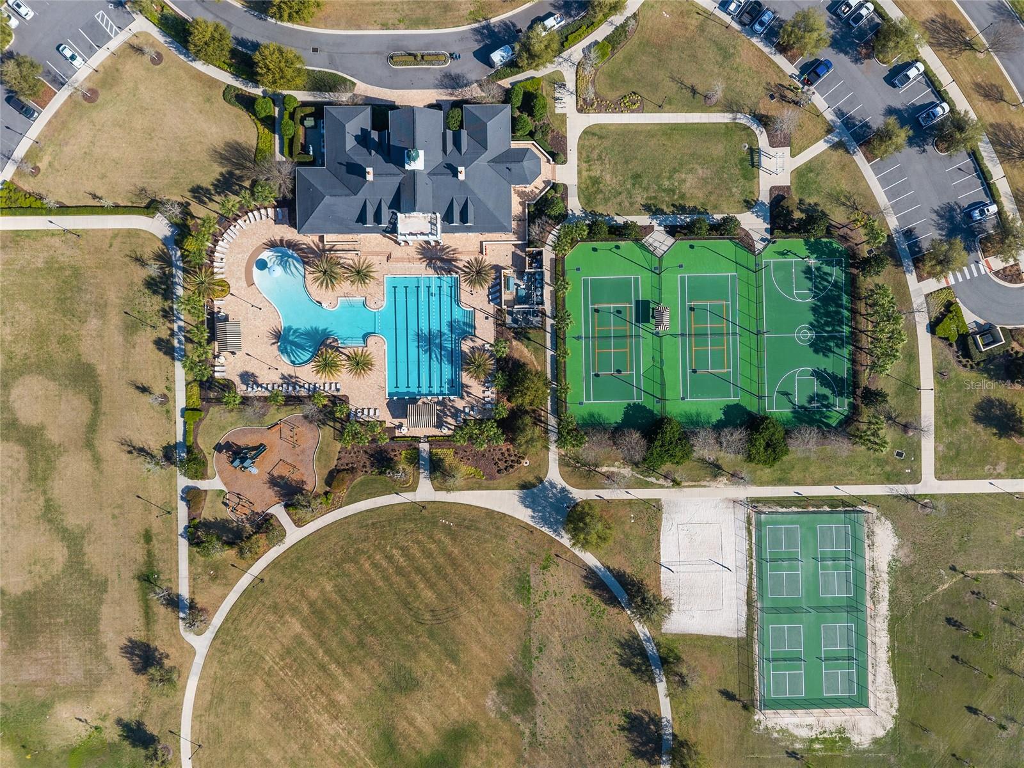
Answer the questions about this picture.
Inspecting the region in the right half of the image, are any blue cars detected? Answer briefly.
Yes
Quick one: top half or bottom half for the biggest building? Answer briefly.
top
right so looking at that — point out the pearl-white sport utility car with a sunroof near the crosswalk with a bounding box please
[967,202,996,221]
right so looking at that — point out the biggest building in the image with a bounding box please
[296,104,541,246]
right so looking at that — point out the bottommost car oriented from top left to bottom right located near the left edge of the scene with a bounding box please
[11,97,39,120]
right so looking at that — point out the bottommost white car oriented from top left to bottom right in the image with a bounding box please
[60,45,85,69]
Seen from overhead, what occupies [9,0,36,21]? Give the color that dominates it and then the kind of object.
white car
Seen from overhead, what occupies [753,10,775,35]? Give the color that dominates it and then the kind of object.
blue car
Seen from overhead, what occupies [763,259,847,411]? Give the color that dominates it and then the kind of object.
green basketball court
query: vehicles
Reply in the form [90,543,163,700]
[837,0,863,24]
[802,59,830,89]
[845,1,873,33]
[967,202,996,221]
[487,46,519,72]
[536,12,568,33]
[889,64,922,91]
[736,0,763,32]
[9,0,36,21]
[915,103,947,129]
[722,0,744,20]
[753,10,775,35]
[60,45,85,69]
[11,97,39,120]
